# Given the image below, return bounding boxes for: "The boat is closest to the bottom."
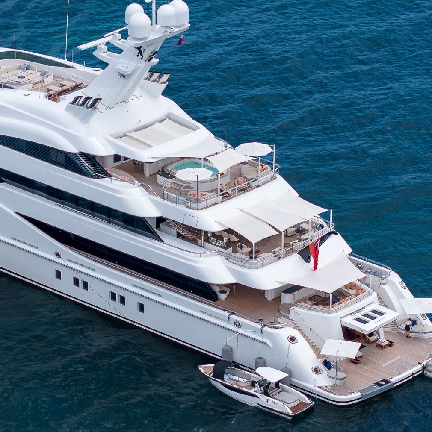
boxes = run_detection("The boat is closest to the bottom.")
[197,360,318,426]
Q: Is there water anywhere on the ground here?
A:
Yes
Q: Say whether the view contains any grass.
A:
No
